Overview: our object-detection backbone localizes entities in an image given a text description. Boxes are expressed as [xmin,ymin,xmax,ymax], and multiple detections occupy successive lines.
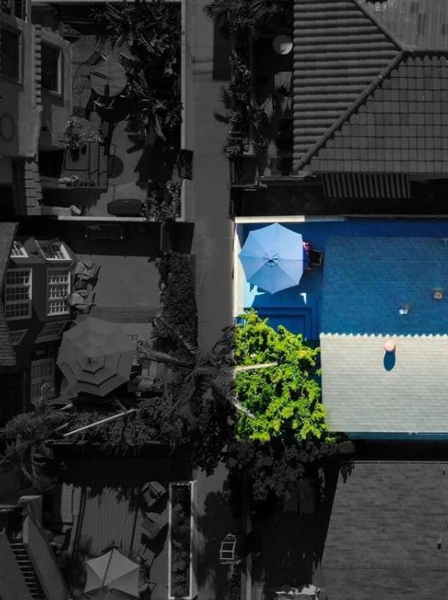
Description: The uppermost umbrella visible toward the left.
[58,316,139,398]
